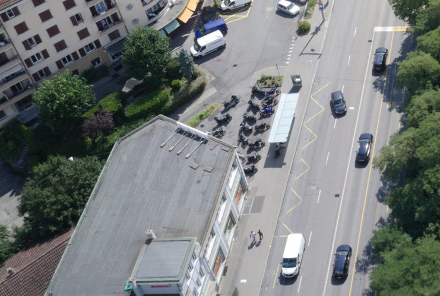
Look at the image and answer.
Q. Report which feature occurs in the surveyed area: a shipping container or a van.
van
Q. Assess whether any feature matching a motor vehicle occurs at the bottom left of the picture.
No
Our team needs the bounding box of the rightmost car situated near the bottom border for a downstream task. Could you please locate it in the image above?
[331,241,353,284]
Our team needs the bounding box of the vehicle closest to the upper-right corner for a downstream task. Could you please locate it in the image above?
[372,46,389,73]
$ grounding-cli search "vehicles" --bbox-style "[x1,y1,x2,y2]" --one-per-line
[261,97,278,105]
[244,150,264,161]
[258,105,276,115]
[273,0,303,17]
[355,132,375,166]
[219,0,252,11]
[212,126,226,134]
[186,26,229,55]
[243,108,257,121]
[254,122,273,131]
[239,119,254,131]
[372,46,389,73]
[246,162,262,174]
[276,227,305,279]
[330,86,348,118]
[238,130,252,142]
[331,241,353,284]
[214,111,233,122]
[251,81,264,93]
[247,138,266,147]
[247,97,262,110]
[190,11,232,38]
[223,96,239,108]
